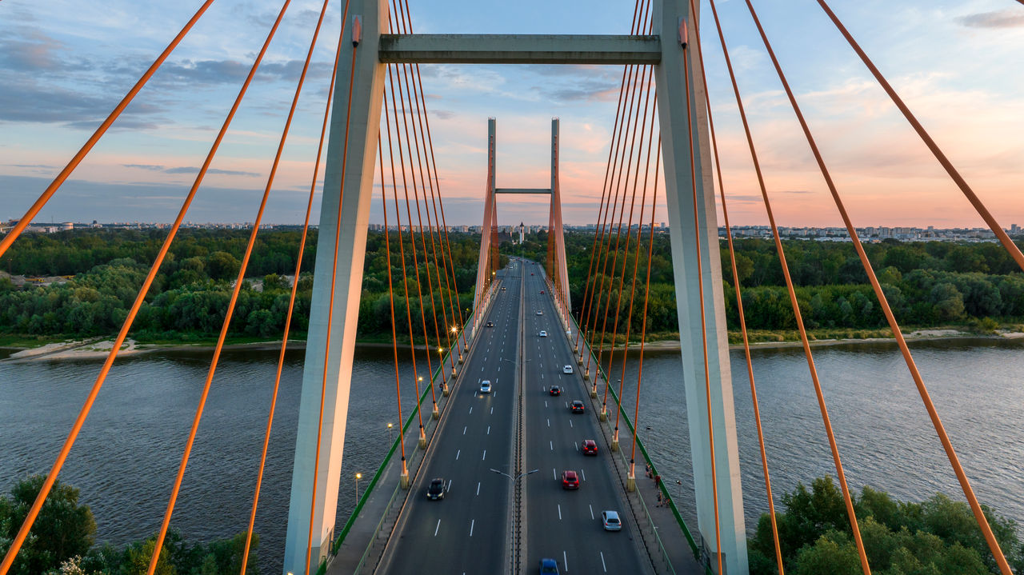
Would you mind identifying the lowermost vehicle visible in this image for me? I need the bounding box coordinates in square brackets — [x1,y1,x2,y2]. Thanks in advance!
[537,555,559,575]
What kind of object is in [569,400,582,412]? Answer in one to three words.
vehicle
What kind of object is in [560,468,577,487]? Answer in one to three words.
car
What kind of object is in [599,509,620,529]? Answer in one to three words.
car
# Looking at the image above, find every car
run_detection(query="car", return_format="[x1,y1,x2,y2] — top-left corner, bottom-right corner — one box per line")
[563,364,572,373]
[580,438,596,454]
[560,468,577,487]
[569,400,582,412]
[480,378,491,391]
[549,384,559,394]
[487,321,493,327]
[539,330,547,336]
[537,555,559,575]
[599,509,620,529]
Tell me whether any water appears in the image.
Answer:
Yes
